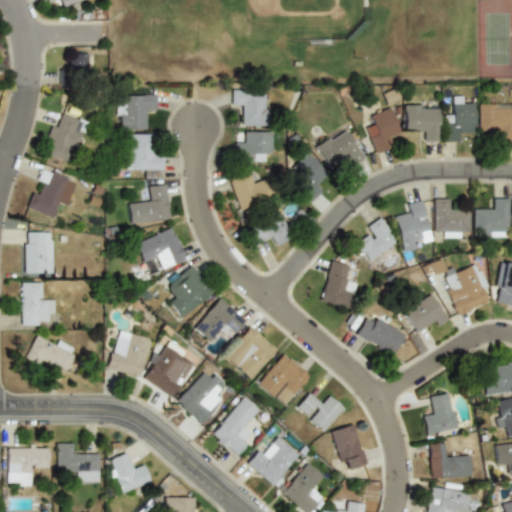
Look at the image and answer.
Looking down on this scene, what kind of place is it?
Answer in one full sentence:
The picture captures a residential area.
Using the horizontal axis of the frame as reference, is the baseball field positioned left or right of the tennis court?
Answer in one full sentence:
It is on the left side of the tennis court that the baseball field is positioned.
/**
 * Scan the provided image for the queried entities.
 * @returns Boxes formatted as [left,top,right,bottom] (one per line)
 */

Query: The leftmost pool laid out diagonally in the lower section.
[112,310,130,332]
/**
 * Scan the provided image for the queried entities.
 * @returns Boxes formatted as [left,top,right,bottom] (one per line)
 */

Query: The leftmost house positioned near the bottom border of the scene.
[7,448,52,488]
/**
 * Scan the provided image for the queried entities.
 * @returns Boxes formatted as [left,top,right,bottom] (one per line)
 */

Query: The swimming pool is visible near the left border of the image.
[9,498,33,512]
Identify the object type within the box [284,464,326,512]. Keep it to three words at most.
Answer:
house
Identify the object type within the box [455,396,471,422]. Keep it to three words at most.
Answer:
swimming pool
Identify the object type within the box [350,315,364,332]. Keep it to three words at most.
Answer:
camper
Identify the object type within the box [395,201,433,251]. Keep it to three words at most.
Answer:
house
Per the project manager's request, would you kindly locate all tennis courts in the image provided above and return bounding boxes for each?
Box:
[478,0,512,78]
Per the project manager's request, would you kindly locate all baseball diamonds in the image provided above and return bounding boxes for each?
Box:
[250,0,346,20]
